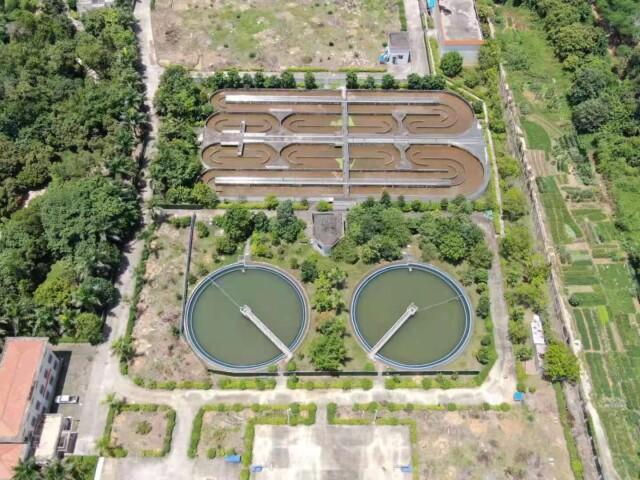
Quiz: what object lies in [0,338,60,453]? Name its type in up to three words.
building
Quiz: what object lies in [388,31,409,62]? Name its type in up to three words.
shed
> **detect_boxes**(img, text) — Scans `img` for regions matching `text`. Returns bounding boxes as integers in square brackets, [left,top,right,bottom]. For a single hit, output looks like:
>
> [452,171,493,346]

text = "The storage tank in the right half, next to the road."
[349,256,474,373]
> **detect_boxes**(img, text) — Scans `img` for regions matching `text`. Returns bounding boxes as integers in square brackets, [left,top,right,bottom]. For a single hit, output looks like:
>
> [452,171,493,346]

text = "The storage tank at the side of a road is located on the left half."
[184,254,311,374]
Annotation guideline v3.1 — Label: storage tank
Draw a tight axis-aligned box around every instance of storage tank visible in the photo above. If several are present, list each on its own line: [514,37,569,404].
[184,254,311,374]
[349,256,474,373]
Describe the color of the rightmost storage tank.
green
